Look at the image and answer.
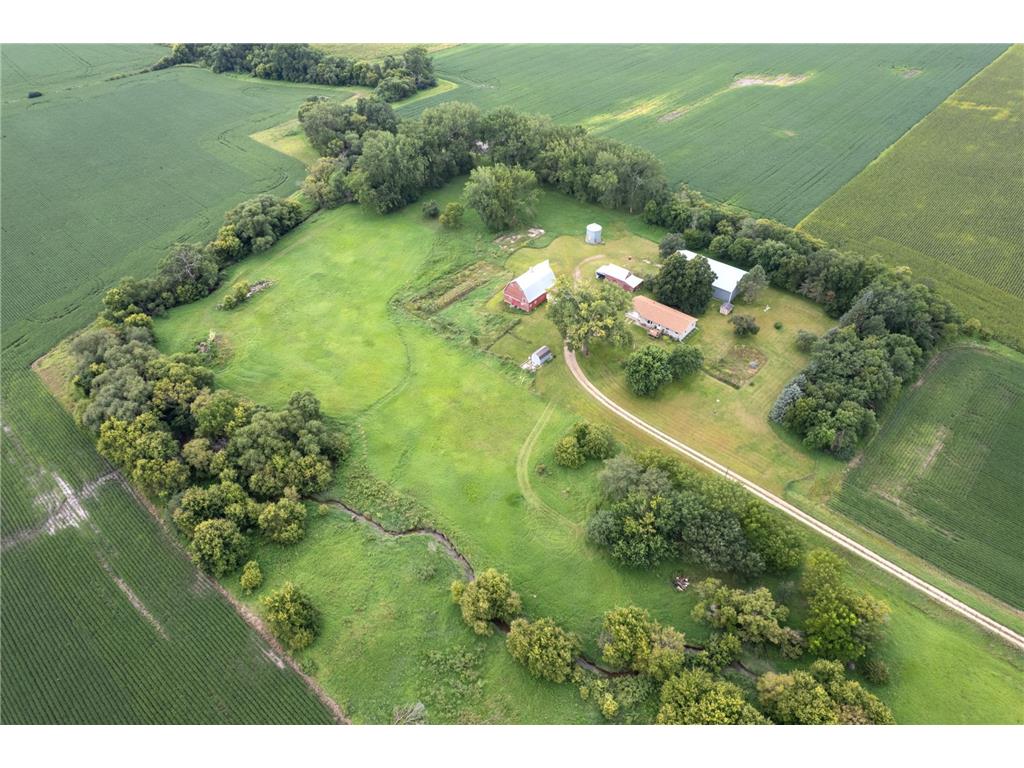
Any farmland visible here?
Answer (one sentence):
Yes, farmland shows up in the scene.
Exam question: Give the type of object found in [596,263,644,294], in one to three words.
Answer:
shed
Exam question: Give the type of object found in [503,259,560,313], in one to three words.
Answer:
barn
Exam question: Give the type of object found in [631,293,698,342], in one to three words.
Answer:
house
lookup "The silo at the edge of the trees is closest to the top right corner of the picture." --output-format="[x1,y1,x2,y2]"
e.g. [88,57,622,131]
[585,219,605,243]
